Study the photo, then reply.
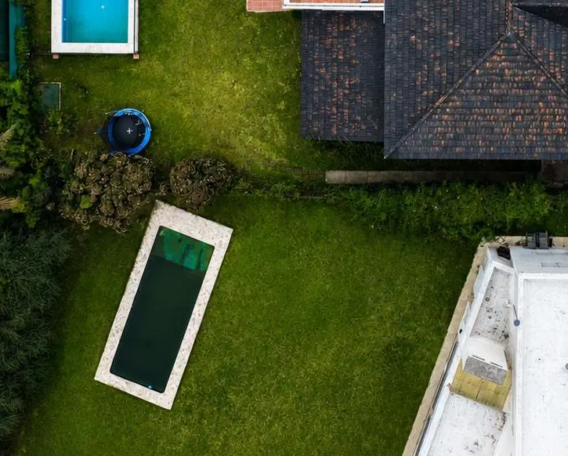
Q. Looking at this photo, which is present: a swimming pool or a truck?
swimming pool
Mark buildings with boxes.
[300,0,568,161]
[411,249,568,456]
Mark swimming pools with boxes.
[95,202,233,409]
[52,0,141,61]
